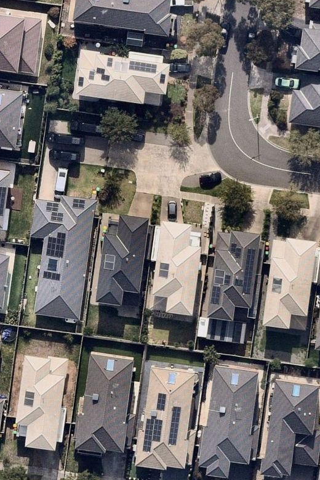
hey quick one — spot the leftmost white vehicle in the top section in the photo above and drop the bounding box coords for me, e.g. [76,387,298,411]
[54,167,68,195]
